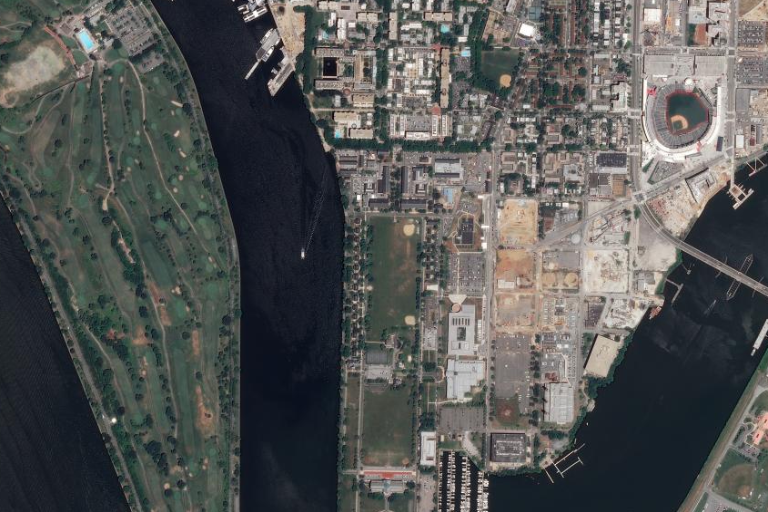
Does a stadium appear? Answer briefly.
Yes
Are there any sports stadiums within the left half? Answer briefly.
No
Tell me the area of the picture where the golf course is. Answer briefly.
left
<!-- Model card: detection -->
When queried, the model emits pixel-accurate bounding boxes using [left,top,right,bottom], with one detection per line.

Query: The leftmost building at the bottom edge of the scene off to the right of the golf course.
[371,479,406,495]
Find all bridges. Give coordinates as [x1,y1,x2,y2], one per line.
[642,202,768,295]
